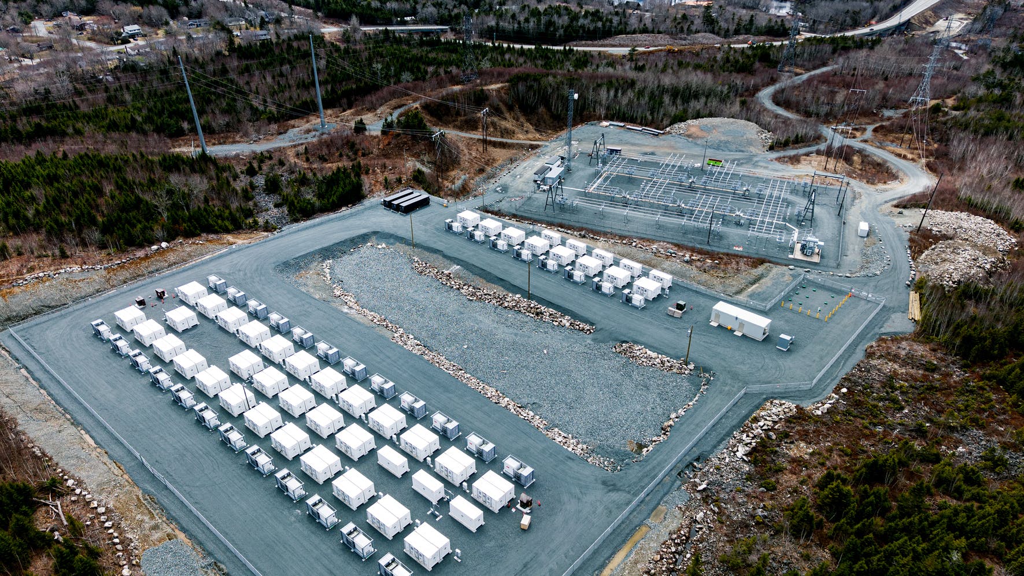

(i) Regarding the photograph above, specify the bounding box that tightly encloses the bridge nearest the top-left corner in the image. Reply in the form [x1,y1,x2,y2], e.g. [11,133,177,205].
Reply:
[338,25,456,38]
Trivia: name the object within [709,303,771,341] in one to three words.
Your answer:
building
